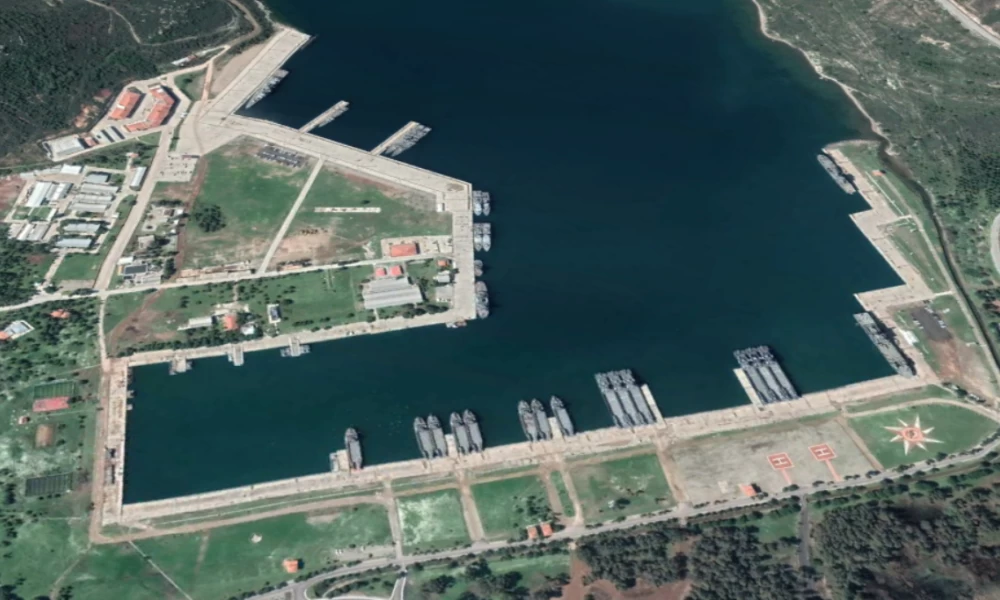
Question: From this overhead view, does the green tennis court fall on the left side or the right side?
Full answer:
The green tennis court sits on the left side.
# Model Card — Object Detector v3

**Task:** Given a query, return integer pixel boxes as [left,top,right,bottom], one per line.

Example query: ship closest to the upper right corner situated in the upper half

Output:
[819,156,855,197]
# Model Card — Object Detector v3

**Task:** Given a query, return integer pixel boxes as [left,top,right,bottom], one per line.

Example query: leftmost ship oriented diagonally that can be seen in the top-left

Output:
[246,71,291,111]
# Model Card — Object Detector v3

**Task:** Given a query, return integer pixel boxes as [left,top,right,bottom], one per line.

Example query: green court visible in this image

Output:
[33,379,75,400]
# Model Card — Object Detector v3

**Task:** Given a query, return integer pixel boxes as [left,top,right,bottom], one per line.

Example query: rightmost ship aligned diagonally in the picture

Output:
[854,314,911,383]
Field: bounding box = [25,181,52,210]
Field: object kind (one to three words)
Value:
building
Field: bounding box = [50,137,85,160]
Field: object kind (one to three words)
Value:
building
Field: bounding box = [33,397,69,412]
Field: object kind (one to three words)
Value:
basketball court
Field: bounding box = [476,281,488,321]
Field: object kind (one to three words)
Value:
ship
